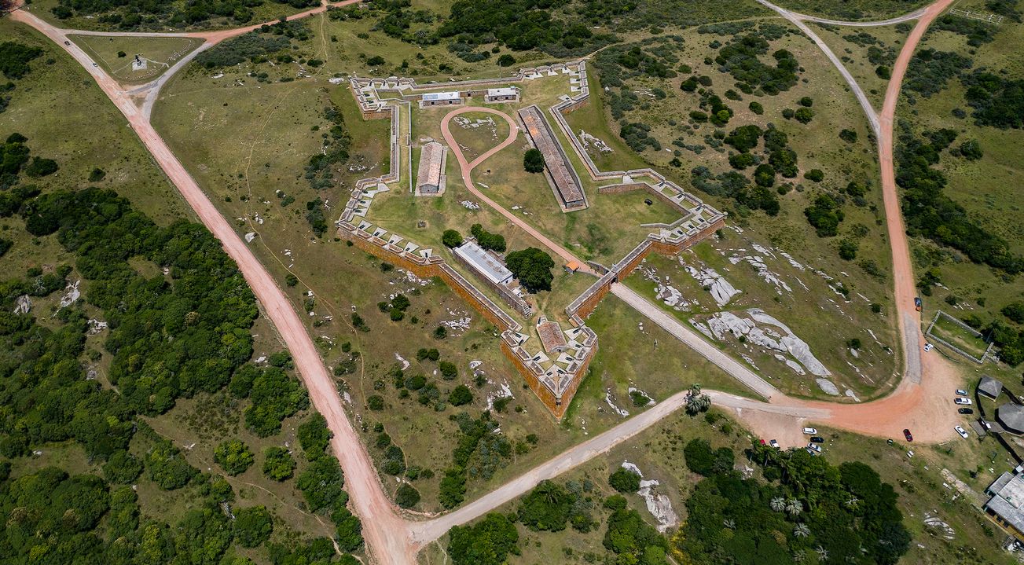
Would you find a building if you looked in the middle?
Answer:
Yes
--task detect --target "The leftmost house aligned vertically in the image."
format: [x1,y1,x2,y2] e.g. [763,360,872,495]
[420,141,442,193]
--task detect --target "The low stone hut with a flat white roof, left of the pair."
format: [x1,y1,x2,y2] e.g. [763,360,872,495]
[423,90,460,106]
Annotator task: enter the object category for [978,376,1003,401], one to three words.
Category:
building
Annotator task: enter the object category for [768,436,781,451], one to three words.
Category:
vehicle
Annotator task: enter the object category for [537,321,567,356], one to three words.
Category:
house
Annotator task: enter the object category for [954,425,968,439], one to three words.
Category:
car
